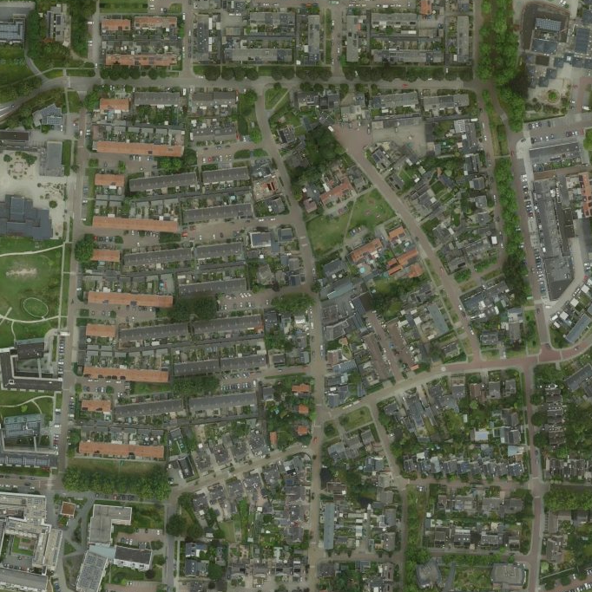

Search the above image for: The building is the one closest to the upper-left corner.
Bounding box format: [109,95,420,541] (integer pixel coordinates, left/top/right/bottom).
[0,18,26,44]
